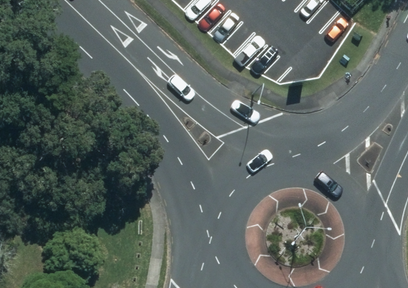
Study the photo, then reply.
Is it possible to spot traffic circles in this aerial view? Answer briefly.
Yes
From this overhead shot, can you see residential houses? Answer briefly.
No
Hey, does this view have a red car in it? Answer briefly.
Yes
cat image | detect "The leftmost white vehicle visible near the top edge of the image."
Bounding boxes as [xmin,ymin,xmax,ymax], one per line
[186,0,212,20]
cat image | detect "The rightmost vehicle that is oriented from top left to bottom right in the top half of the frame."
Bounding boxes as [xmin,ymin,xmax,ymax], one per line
[230,100,258,124]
